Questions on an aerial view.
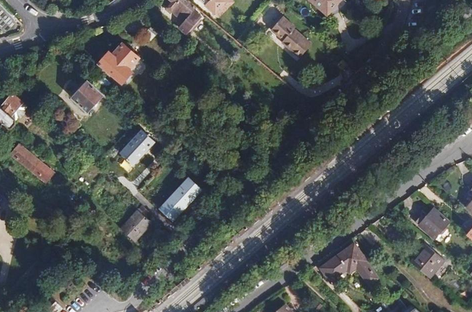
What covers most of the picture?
trees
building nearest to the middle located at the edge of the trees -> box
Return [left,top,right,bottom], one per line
[159,178,201,221]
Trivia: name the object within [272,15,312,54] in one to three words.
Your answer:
house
